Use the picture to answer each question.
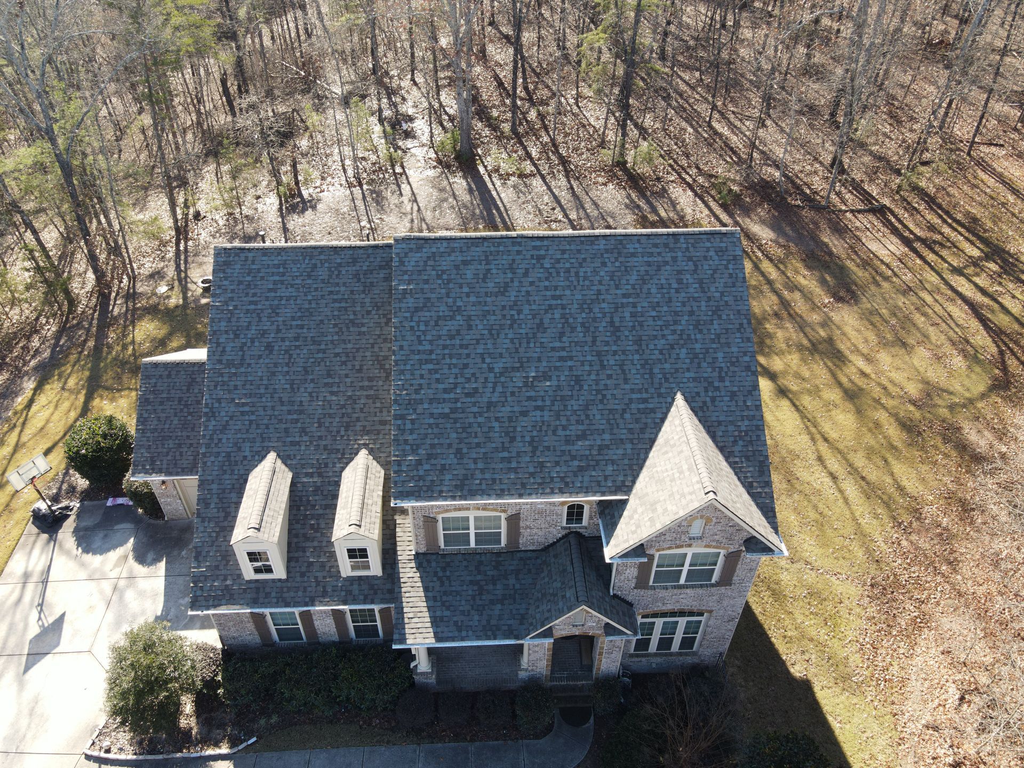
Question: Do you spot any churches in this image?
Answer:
No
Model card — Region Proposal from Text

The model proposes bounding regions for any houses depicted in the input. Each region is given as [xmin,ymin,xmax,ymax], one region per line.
[133,226,793,718]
